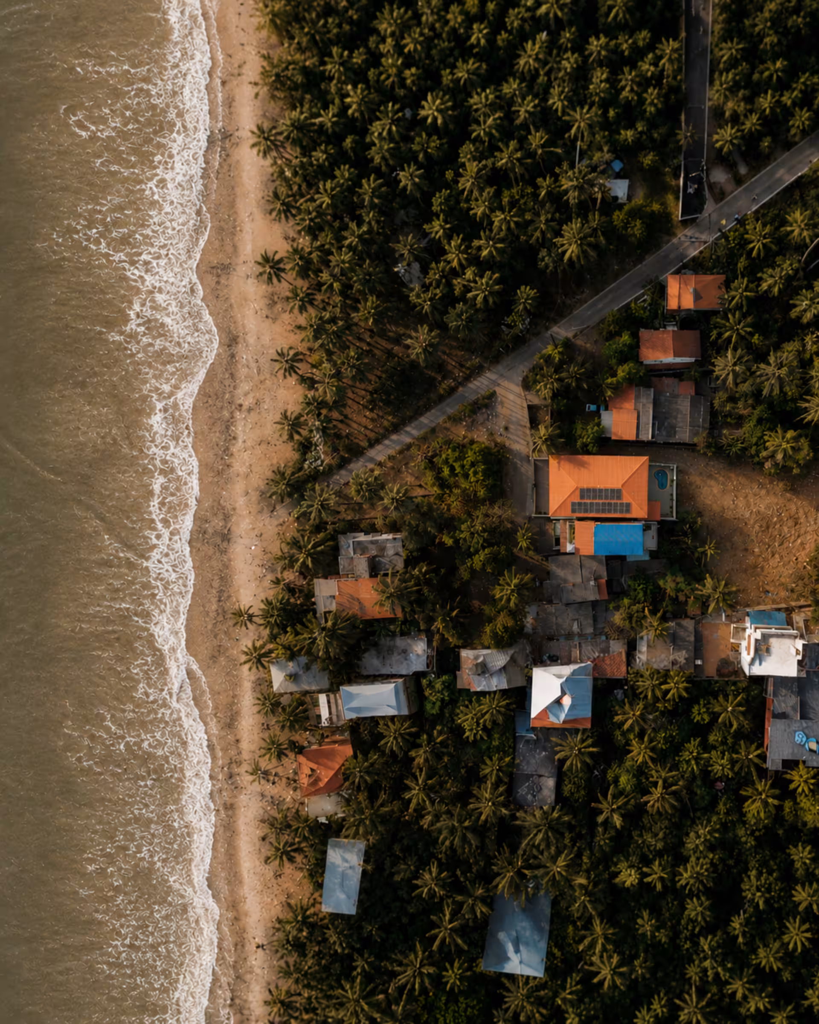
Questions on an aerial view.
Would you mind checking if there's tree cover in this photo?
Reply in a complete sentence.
Yes, some tree cover is visible.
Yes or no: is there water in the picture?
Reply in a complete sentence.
Yes, some water is visible.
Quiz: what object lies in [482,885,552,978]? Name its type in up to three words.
shed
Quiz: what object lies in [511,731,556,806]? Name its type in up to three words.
house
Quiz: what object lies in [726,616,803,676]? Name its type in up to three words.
house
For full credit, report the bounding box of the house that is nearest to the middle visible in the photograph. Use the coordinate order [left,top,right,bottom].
[338,531,404,578]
